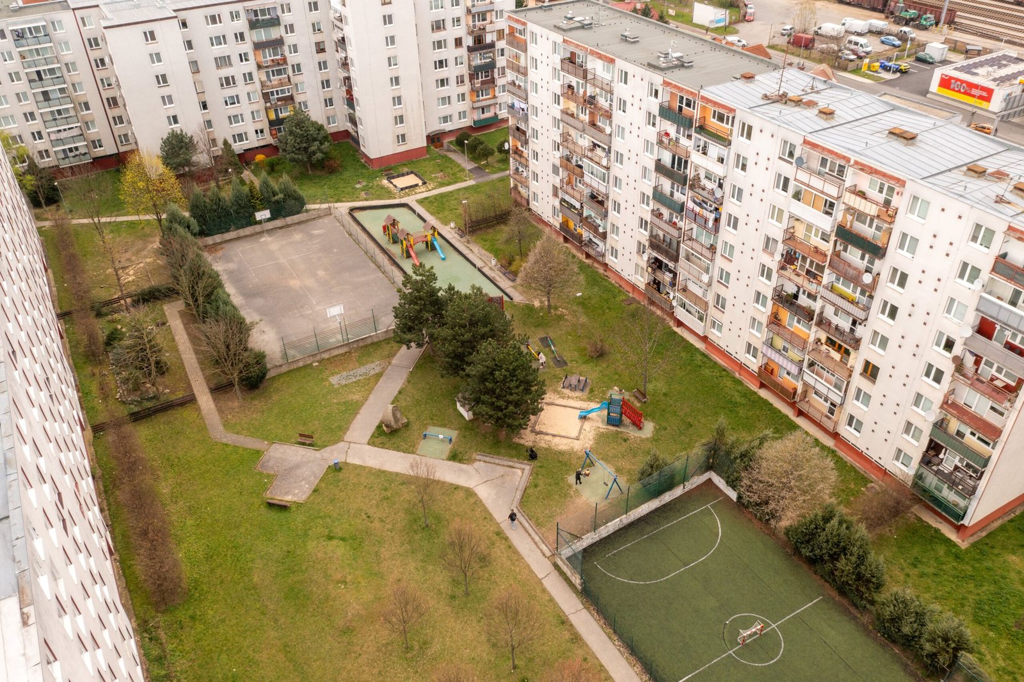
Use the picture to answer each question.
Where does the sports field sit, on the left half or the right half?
right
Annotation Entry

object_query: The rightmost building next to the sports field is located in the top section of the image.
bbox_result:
[505,0,1024,541]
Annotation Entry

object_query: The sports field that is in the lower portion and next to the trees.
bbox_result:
[558,477,923,682]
